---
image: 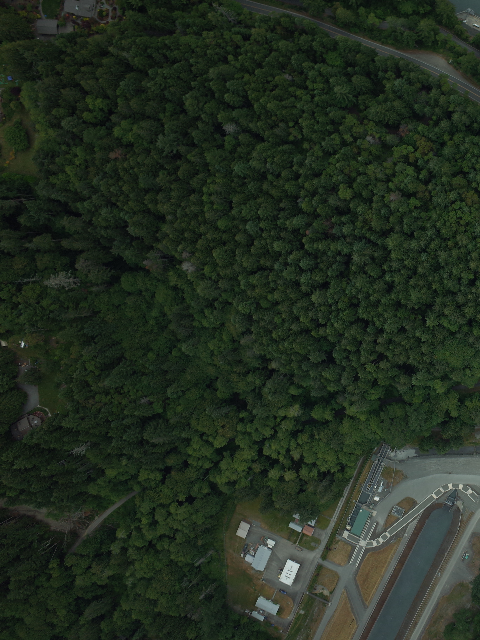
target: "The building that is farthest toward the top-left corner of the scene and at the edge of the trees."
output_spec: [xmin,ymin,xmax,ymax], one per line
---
[36,19,60,36]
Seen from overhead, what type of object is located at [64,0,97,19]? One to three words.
house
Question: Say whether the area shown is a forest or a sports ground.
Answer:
forest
